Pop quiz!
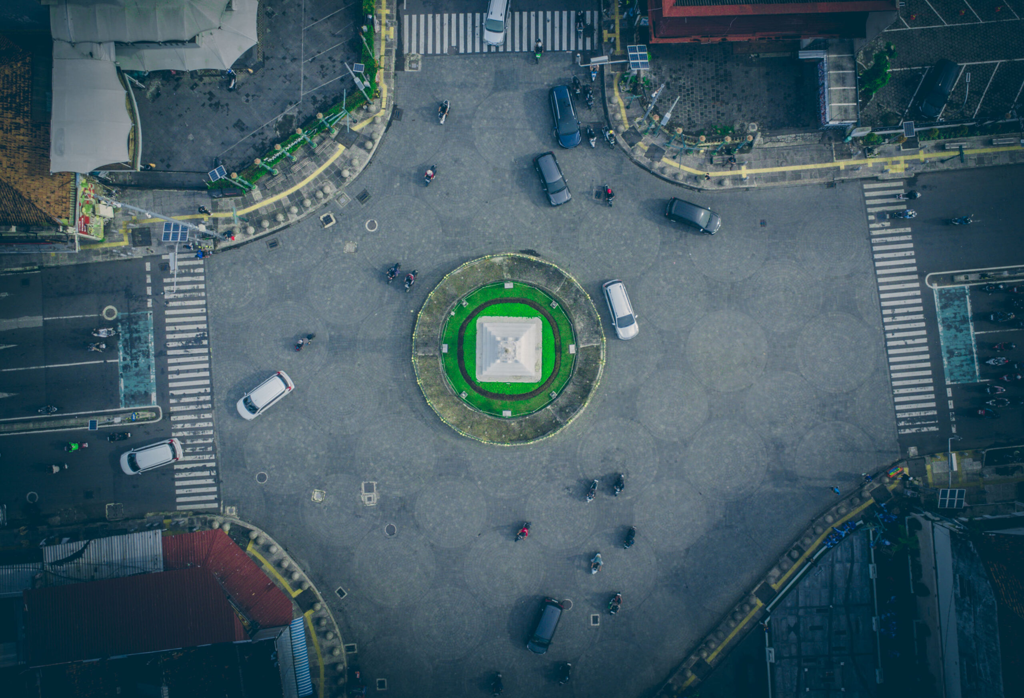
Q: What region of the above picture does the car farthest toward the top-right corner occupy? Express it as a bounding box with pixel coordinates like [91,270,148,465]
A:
[914,54,965,119]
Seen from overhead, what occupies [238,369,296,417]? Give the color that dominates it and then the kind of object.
white car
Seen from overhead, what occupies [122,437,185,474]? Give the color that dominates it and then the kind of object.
white car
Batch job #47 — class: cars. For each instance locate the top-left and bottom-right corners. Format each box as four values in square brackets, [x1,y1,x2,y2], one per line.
[527,596,563,652]
[122,437,185,474]
[547,82,582,150]
[238,369,296,417]
[664,196,719,236]
[534,150,569,207]
[600,277,637,341]
[482,0,514,49]
[914,54,965,119]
